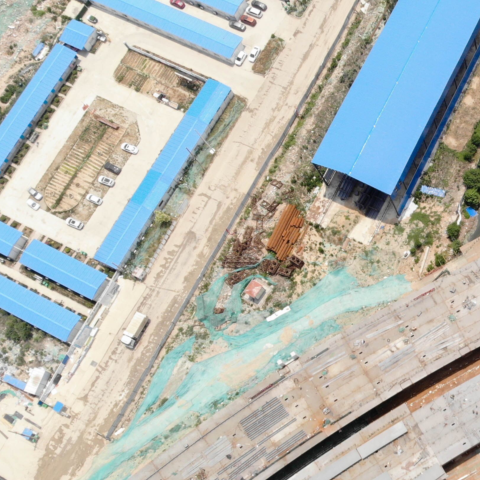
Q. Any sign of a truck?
Yes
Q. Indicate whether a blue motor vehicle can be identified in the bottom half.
No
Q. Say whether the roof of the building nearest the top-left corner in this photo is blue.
Yes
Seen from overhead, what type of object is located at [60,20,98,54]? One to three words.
building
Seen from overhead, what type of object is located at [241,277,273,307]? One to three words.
shed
